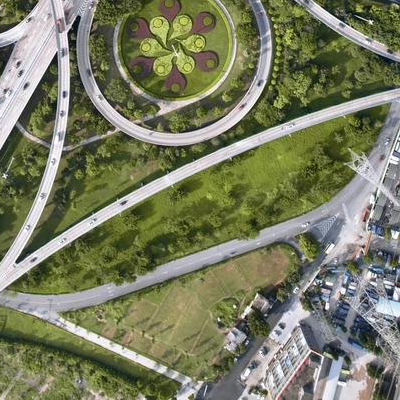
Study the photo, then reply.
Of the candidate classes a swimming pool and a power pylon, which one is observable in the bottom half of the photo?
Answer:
power pylon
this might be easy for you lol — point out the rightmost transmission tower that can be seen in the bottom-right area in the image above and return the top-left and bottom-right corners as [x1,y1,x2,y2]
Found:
[341,265,400,372]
